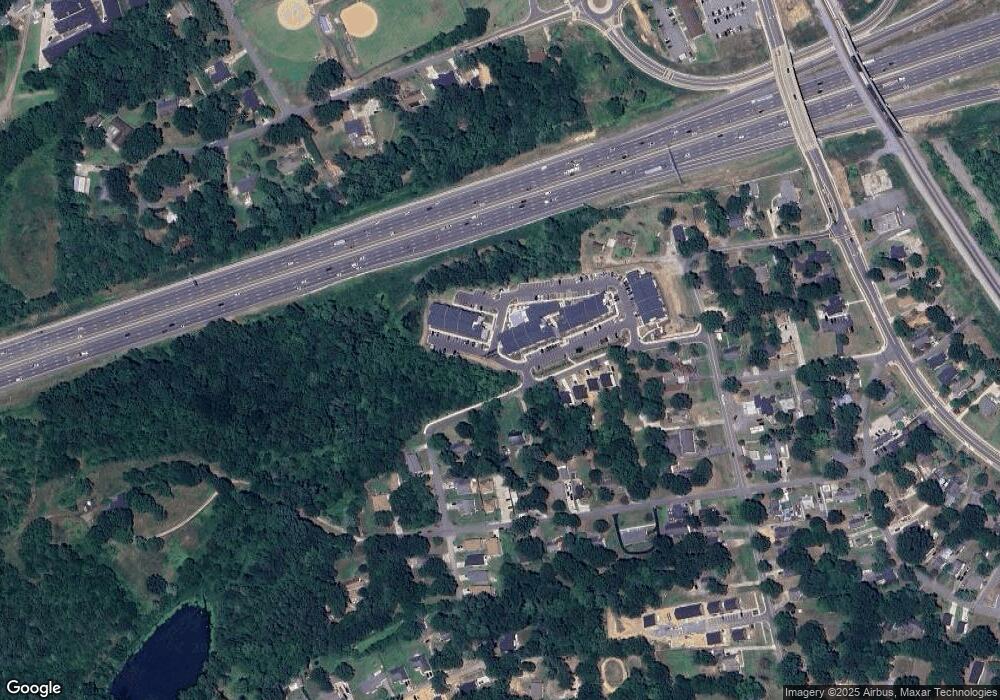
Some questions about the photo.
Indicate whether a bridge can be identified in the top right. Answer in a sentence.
Yes, I can see a bridge in the top right.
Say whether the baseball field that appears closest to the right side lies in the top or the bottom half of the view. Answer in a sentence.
The baseball field that appears closest to the right side is in the top half of the image.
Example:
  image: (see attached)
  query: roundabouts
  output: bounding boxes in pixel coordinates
[578,0,622,22]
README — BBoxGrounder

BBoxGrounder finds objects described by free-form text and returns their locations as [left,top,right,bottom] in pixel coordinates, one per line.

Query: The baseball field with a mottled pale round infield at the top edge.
[236,0,322,62]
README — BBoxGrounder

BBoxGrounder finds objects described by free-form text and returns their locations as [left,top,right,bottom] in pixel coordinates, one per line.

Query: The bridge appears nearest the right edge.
[827,22,909,149]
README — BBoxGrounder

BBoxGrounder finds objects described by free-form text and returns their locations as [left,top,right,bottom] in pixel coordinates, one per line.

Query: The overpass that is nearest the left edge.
[766,45,820,153]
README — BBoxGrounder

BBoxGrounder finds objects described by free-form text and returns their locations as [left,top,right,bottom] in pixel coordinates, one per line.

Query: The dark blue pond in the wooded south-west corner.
[109,604,212,700]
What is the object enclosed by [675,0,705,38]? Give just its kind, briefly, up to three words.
building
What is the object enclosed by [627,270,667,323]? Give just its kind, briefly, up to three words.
building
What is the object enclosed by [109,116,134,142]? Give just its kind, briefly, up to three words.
house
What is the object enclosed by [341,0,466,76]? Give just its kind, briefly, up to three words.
baseball field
